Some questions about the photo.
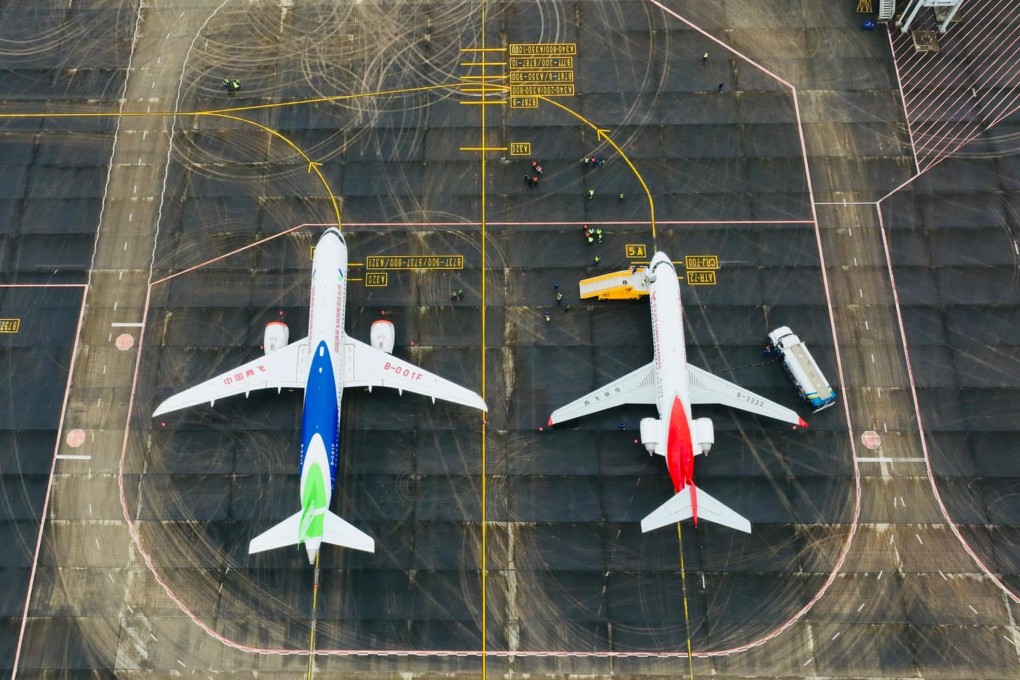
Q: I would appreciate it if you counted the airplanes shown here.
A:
2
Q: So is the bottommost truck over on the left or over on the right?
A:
right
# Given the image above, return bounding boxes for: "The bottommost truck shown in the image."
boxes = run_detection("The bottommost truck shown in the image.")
[762,326,837,419]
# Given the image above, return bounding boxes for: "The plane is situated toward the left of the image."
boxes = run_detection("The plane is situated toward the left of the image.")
[152,228,488,564]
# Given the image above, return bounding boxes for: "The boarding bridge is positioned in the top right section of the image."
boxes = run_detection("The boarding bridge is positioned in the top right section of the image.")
[894,0,967,35]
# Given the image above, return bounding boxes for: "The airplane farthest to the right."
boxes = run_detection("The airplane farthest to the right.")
[550,251,808,533]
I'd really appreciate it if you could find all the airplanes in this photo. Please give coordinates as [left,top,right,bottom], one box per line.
[152,228,488,564]
[550,251,808,533]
